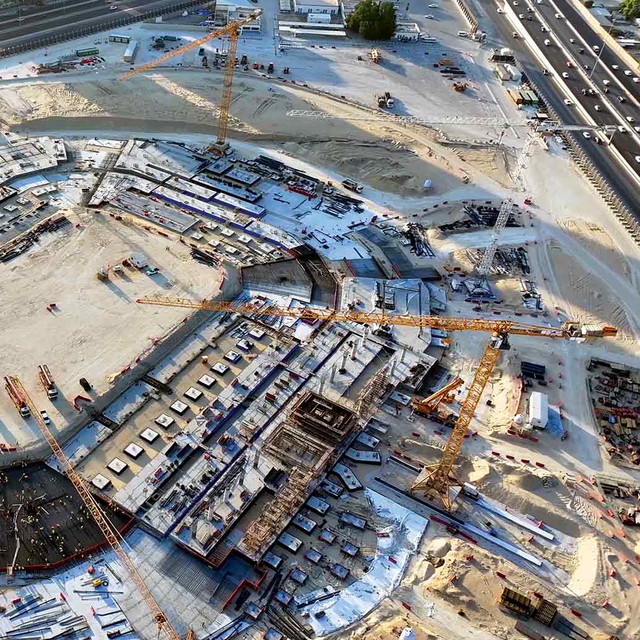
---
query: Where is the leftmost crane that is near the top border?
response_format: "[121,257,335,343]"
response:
[119,13,269,162]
